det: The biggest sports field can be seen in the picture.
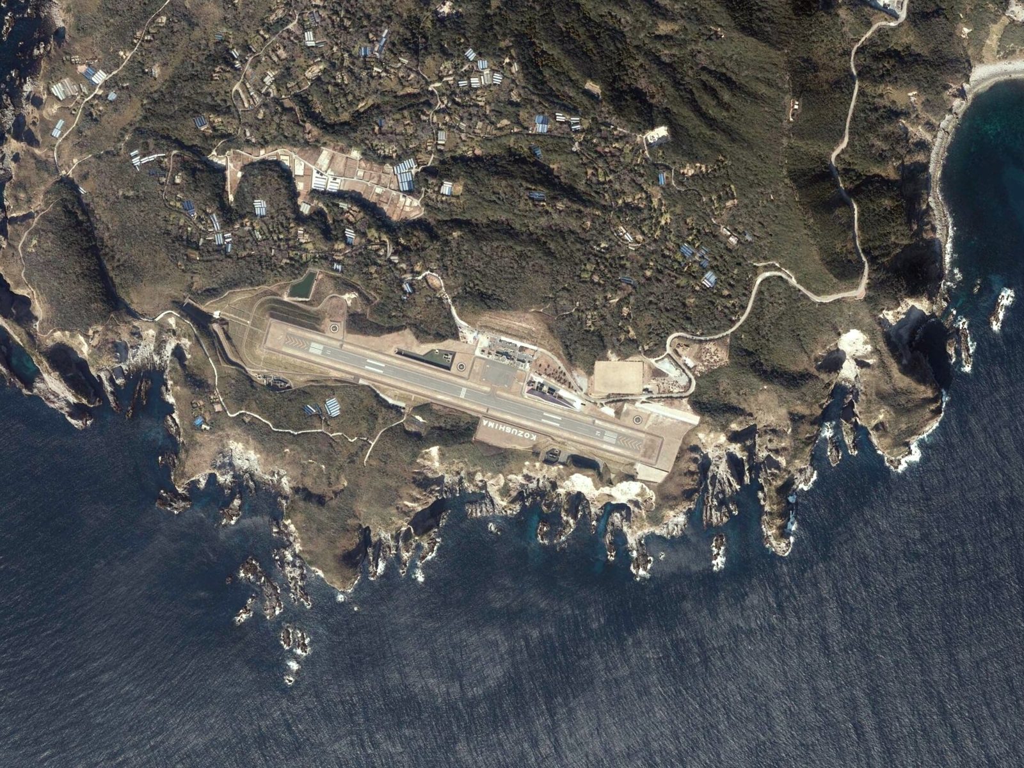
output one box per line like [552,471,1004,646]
[595,361,643,394]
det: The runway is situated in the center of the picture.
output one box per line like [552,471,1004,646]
[284,332,642,453]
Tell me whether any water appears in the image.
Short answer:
Yes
